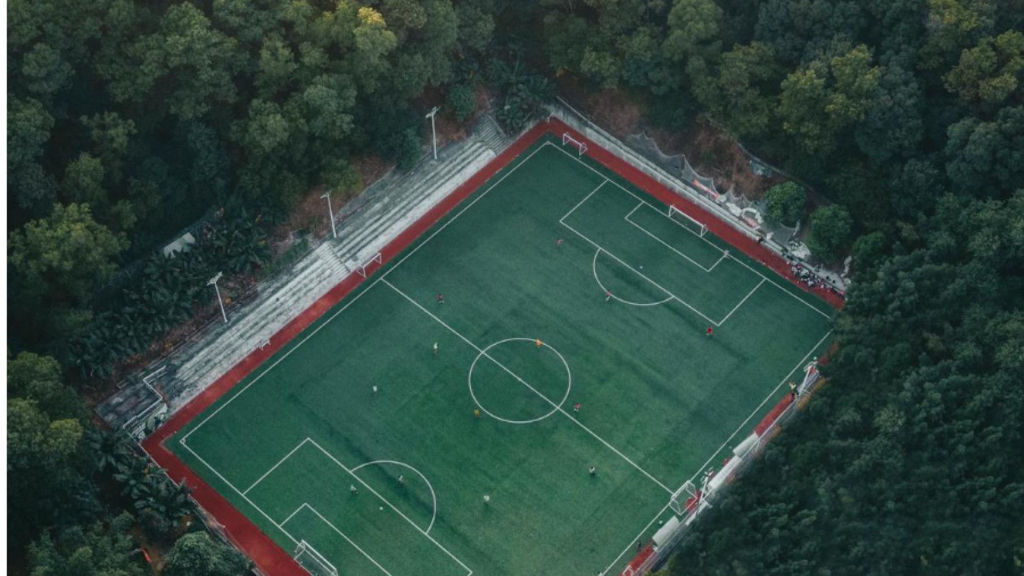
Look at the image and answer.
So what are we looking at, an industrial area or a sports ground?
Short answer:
sports ground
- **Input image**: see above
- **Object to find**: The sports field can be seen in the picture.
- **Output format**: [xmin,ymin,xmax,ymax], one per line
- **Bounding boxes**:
[163,131,839,576]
